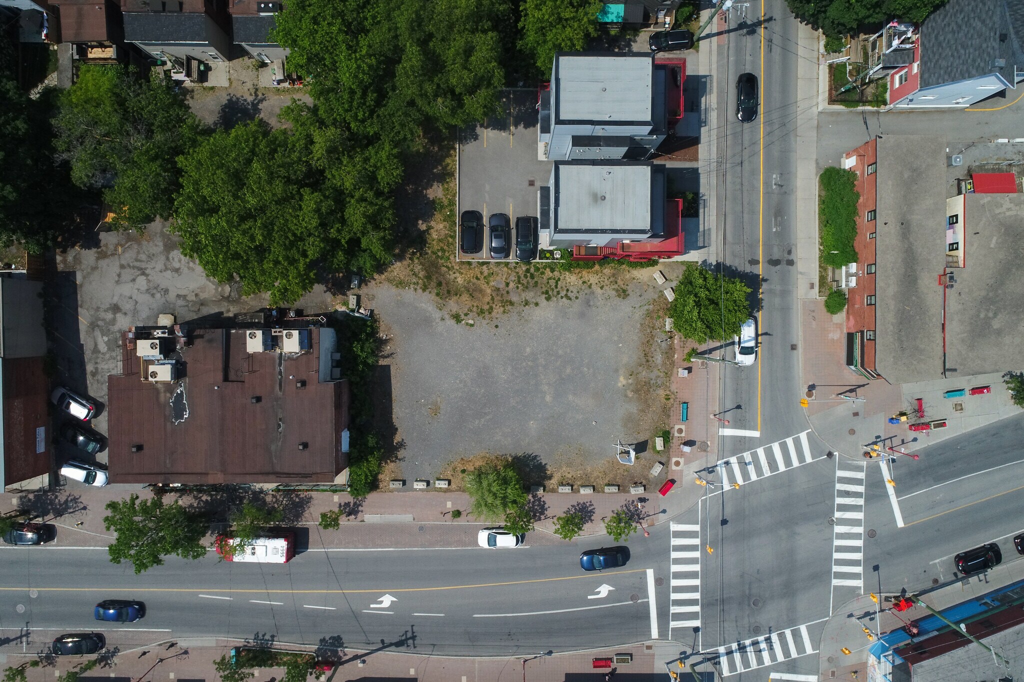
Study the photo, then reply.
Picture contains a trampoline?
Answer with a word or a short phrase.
No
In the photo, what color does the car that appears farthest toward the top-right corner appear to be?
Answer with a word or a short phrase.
black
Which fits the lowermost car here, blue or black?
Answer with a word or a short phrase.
black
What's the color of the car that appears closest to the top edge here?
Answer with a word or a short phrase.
black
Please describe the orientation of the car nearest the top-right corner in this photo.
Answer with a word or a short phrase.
vertically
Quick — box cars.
[478,527,522,551]
[514,214,538,261]
[52,631,106,658]
[487,213,510,259]
[579,546,628,572]
[647,28,695,54]
[735,72,760,124]
[59,421,106,456]
[52,386,100,423]
[95,599,145,624]
[733,317,758,367]
[59,458,106,487]
[6,522,57,546]
[950,543,999,574]
[459,210,482,256]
